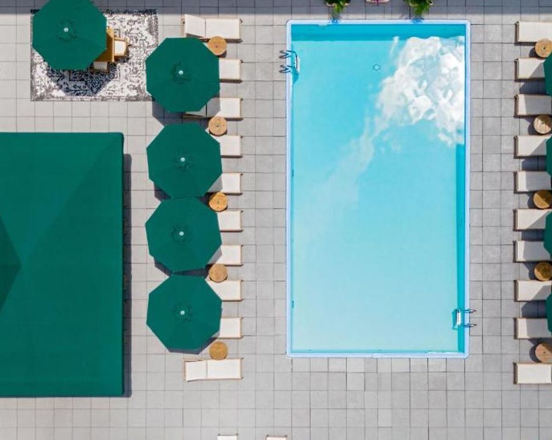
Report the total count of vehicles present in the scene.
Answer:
0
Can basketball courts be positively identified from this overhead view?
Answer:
No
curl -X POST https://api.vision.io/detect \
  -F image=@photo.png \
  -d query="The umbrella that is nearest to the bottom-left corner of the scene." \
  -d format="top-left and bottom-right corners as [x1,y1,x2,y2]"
[145,276,221,352]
